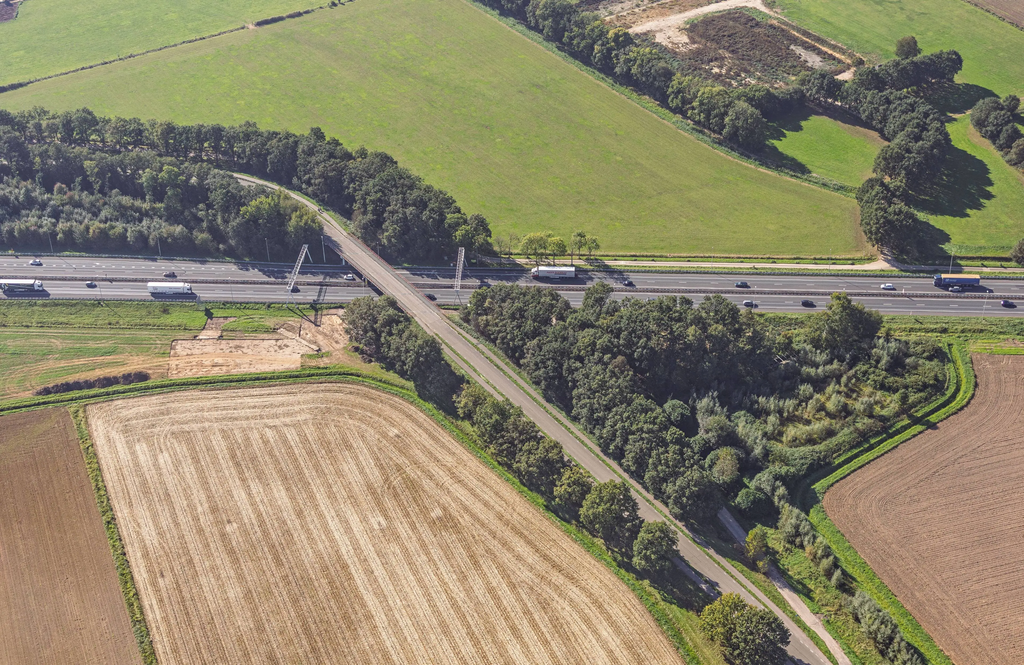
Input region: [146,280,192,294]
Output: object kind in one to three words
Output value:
vehicle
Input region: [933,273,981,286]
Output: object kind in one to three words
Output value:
vehicle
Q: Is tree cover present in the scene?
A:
Yes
